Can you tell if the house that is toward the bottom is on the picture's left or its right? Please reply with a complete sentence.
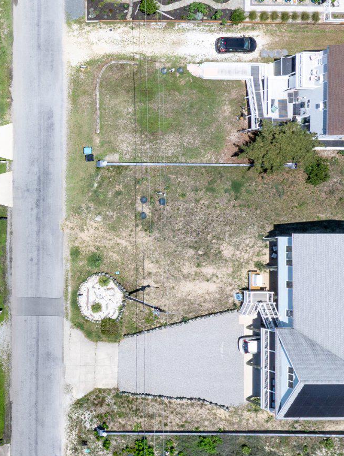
It is on the right.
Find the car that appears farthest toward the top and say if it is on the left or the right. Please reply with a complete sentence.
The car that appears farthest toward the top sits on the right side.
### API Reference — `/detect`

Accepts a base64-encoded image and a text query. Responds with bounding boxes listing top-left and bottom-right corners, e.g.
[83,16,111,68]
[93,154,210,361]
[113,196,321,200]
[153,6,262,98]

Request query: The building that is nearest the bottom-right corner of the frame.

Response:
[230,233,344,419]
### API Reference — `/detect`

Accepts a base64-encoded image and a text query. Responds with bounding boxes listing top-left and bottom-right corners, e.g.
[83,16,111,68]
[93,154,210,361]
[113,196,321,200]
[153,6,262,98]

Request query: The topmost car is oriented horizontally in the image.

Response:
[215,35,255,54]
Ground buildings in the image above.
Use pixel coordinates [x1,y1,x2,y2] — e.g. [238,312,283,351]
[230,233,344,419]
[261,43,344,158]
